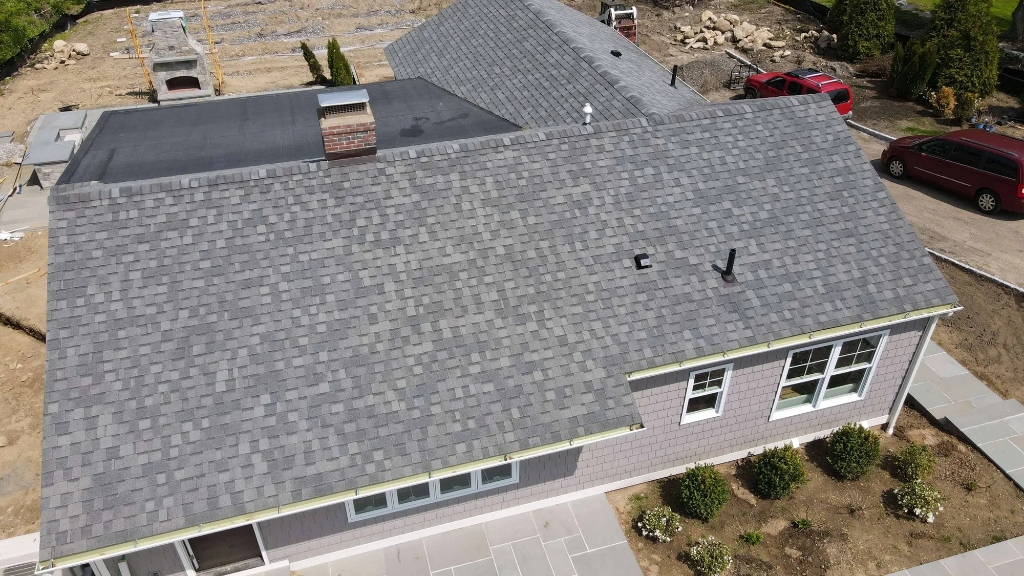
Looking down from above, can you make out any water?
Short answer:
No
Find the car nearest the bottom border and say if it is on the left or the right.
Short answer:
right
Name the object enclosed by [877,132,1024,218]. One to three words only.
car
